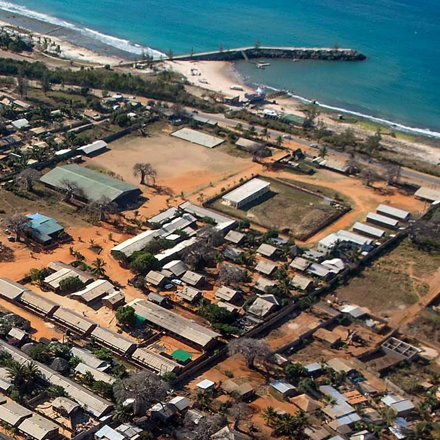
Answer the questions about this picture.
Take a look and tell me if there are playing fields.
Yes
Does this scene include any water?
Yes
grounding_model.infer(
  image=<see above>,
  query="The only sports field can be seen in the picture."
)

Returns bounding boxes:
[83,121,266,196]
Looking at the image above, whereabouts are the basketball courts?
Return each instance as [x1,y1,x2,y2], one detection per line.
[170,127,224,148]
